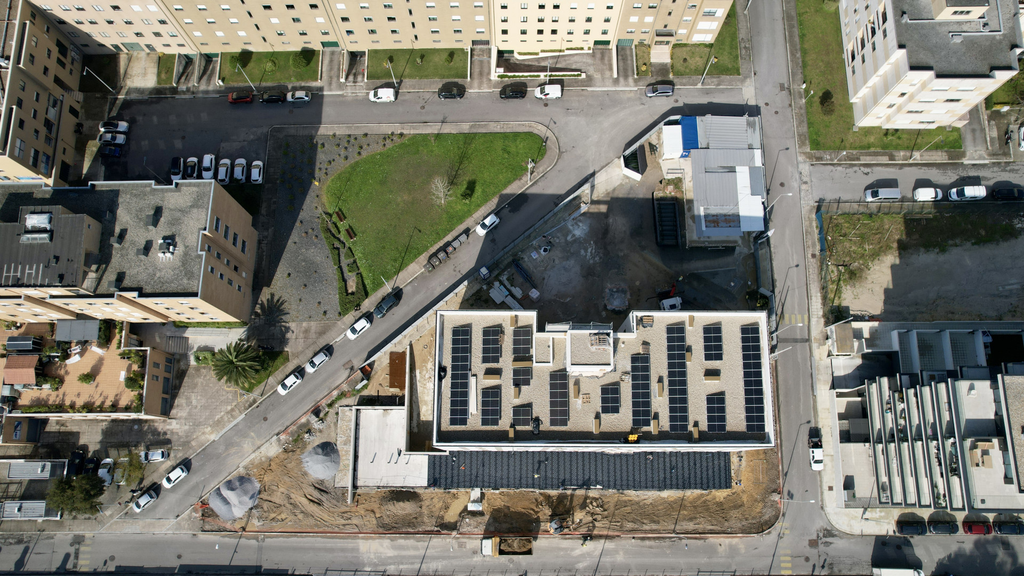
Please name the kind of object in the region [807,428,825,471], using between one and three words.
vehicle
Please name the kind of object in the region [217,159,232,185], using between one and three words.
car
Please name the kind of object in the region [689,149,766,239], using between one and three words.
shed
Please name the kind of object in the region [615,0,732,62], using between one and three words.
building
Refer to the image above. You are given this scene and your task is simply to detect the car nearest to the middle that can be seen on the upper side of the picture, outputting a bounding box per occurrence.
[475,213,500,236]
